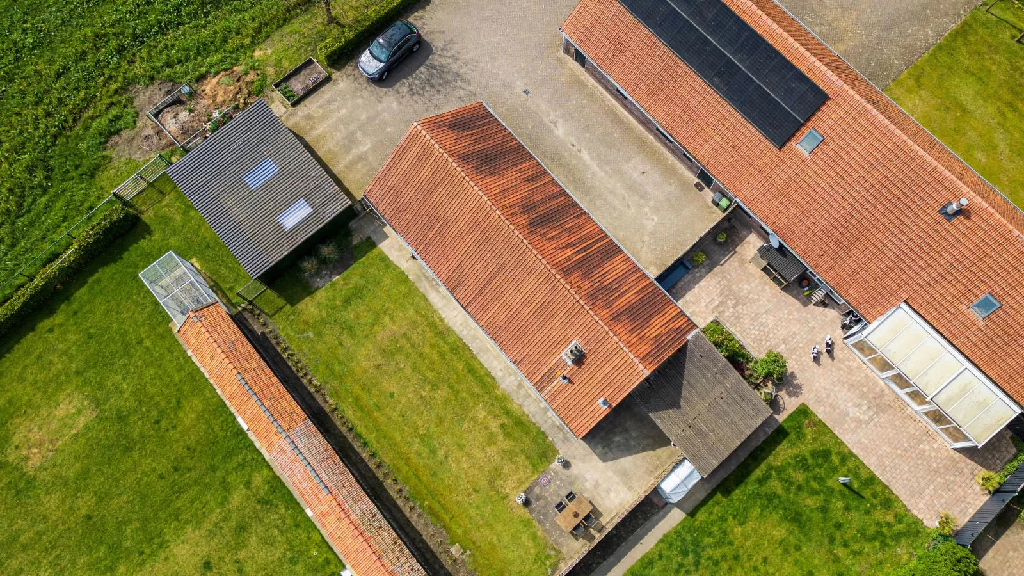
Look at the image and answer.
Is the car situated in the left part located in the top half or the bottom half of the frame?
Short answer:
top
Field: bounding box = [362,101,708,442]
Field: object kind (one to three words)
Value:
barn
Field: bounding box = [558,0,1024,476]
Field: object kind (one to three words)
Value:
house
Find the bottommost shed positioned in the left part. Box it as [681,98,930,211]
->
[175,300,432,576]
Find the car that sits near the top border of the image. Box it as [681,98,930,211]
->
[360,22,426,82]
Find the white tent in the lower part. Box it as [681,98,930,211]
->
[652,460,704,509]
